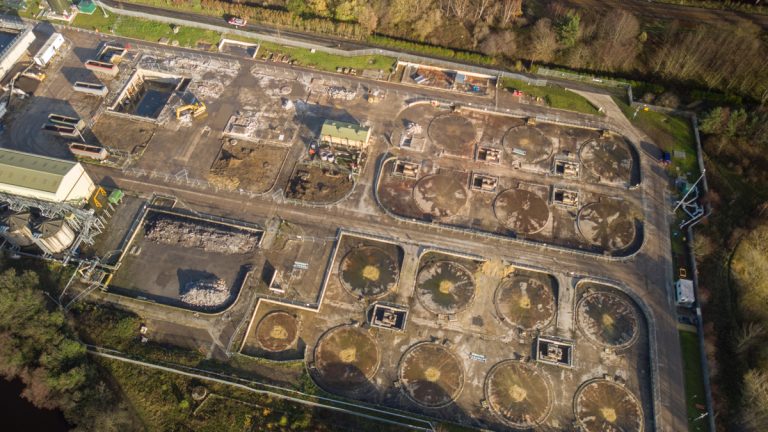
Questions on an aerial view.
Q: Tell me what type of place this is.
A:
industrial area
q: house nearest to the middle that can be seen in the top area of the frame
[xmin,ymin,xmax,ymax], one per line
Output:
[321,119,374,153]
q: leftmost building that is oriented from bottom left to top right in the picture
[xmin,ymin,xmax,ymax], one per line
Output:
[31,31,67,68]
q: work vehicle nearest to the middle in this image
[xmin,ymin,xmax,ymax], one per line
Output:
[308,141,320,158]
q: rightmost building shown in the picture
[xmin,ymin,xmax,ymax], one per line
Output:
[675,281,699,312]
